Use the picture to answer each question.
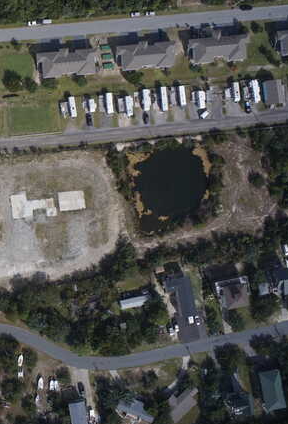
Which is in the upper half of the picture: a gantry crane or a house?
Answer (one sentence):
Looking in the upper half of the picture, you will find a house.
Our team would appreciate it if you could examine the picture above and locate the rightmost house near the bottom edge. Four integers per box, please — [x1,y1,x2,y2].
[257,369,286,411]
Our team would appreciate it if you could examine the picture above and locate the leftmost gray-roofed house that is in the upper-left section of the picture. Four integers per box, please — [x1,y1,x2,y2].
[37,49,97,78]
